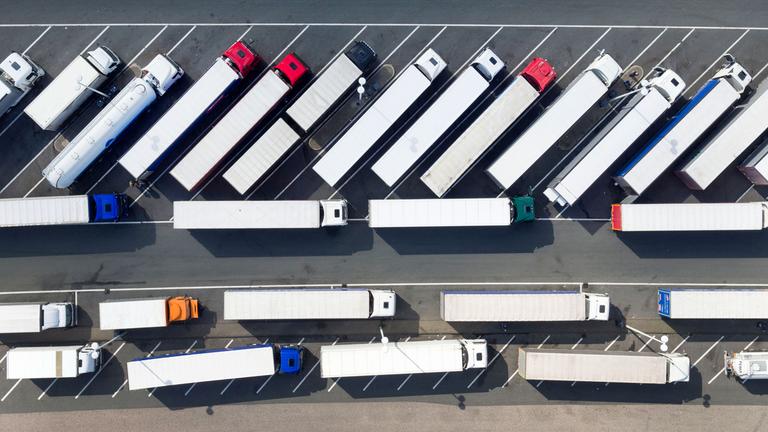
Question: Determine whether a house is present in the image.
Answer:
No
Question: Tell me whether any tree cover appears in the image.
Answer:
No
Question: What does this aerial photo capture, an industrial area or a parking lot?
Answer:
parking lot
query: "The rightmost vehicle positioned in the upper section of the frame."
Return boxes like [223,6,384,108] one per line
[736,136,768,188]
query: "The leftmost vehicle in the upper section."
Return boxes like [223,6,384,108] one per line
[0,50,48,121]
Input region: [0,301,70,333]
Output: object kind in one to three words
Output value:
truck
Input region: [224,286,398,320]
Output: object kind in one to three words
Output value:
truck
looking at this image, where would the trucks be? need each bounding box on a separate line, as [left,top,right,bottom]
[370,46,508,188]
[539,68,688,209]
[482,50,626,190]
[610,203,768,232]
[736,136,768,188]
[172,199,350,230]
[6,344,105,379]
[127,338,304,390]
[223,38,380,196]
[0,301,70,333]
[313,44,452,188]
[418,57,556,198]
[118,39,262,182]
[0,50,48,121]
[320,336,490,376]
[670,77,768,190]
[656,287,768,319]
[99,294,202,330]
[170,50,314,193]
[25,44,122,131]
[440,290,610,321]
[224,286,398,320]
[0,193,129,226]
[610,57,755,196]
[518,346,690,383]
[41,53,182,190]
[367,196,536,228]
